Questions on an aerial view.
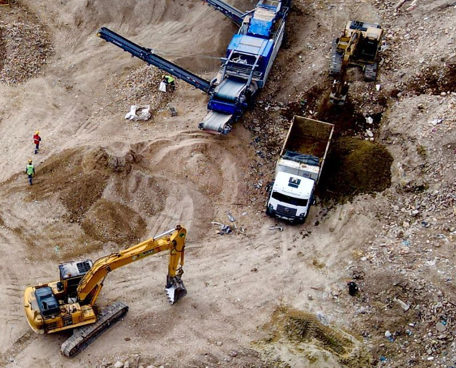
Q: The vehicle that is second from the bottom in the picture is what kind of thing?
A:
truck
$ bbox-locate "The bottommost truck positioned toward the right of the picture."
[265,117,336,230]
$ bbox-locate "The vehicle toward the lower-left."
[24,212,194,355]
